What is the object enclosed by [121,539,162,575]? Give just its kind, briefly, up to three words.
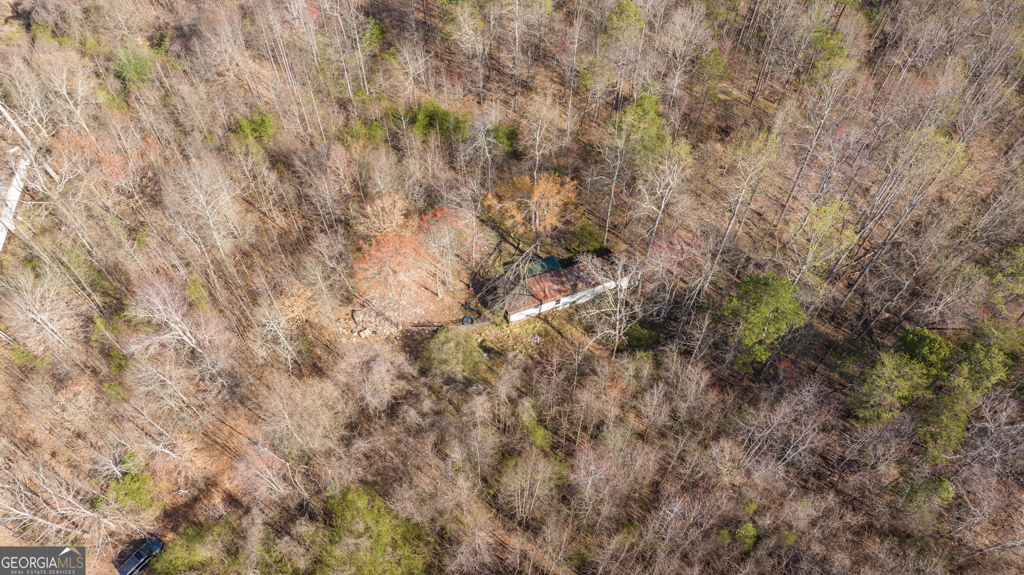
car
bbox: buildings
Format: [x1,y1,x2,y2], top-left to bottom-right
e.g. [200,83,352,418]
[498,248,633,322]
[0,146,33,246]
